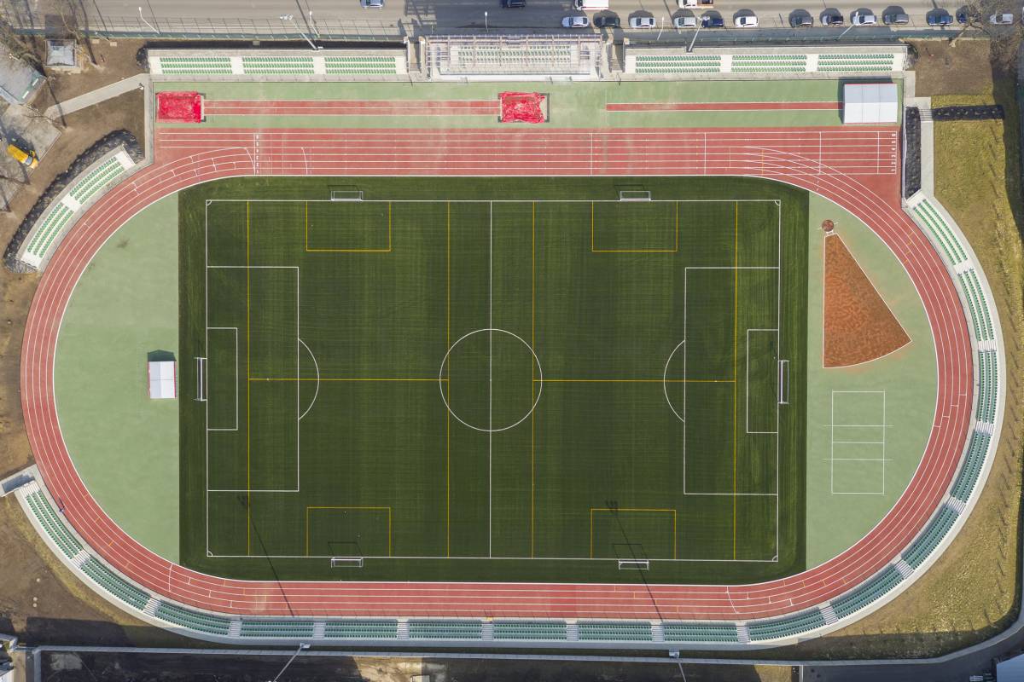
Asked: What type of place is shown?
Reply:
sports ground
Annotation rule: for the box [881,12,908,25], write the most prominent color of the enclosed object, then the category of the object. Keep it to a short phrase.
gray vehicle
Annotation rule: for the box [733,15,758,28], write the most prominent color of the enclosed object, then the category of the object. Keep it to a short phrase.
white vehicle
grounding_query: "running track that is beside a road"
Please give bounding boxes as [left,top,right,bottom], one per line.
[20,127,972,619]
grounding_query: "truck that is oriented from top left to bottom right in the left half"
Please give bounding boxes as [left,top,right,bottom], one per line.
[4,141,42,171]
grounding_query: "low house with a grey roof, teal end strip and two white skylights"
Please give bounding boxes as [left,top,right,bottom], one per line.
[0,37,52,106]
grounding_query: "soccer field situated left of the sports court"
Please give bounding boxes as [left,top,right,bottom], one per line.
[178,176,808,585]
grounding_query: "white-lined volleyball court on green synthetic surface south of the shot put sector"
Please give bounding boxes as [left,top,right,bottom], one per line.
[832,391,885,494]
